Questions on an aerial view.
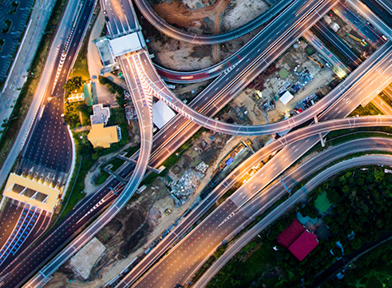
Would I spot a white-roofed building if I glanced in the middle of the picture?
Yes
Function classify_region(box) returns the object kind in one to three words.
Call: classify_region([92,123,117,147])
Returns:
house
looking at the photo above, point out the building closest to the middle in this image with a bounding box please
[151,99,176,130]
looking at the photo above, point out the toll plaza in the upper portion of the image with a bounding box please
[109,30,145,58]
